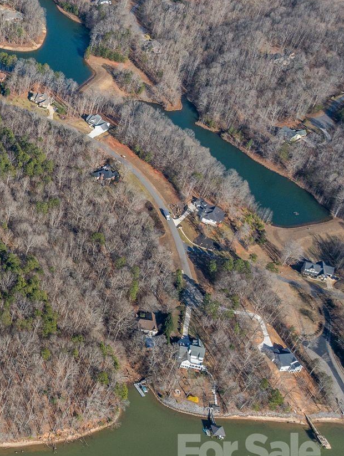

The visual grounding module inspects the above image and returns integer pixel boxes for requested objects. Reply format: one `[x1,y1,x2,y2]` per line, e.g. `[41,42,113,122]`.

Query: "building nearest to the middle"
[174,188,224,229]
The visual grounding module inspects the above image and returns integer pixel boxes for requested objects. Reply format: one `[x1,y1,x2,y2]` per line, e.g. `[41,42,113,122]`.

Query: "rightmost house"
[297,256,330,286]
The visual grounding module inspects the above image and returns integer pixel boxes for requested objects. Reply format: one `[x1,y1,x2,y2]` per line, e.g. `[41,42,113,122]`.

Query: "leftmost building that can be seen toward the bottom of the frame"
[135,311,158,340]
